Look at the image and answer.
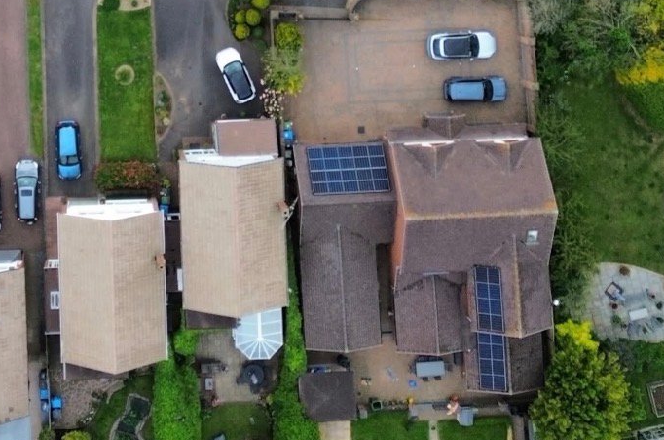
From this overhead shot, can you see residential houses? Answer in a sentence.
Yes, the frame does contain a residential house.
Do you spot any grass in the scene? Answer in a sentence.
Yes, grass can be seen from above here.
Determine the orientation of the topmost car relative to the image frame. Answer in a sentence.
What the image shows is the topmost car lying from left to right.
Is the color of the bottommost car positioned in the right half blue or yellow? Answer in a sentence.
In this view, the bottommost car positioned in the right half is blue.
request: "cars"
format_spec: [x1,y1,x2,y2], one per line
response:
[53,119,85,179]
[425,29,495,63]
[442,74,507,106]
[218,45,255,106]
[10,159,42,224]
